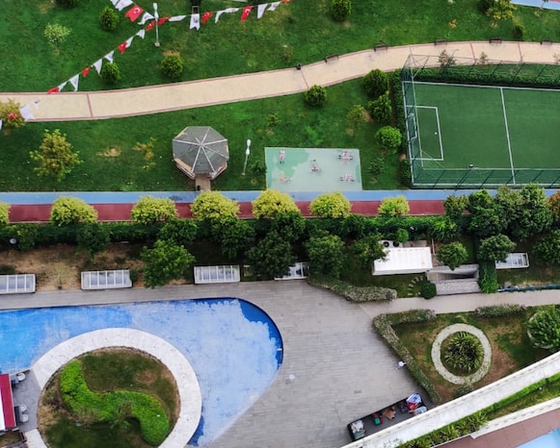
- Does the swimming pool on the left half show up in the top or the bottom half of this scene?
bottom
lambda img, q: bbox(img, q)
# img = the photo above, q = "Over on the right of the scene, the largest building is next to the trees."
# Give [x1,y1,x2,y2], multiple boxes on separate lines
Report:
[369,246,432,275]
